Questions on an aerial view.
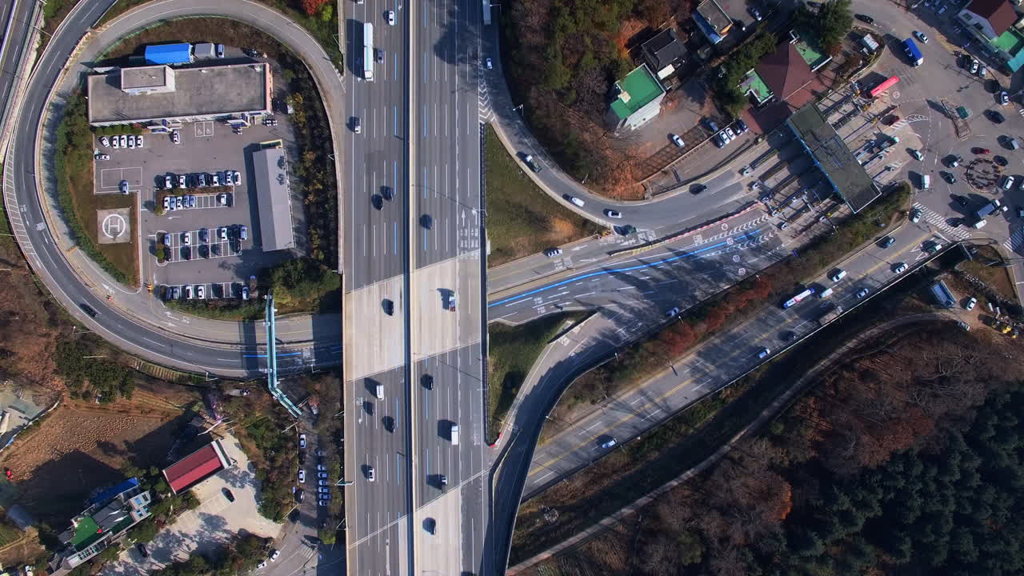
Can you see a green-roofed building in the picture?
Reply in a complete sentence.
Yes, the photo shows a green-roofed building.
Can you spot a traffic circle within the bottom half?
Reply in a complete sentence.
No, no traffic circle can be made out within the bottom half.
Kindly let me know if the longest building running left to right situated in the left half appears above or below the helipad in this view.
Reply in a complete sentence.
It's above the helipad that the longest building running left to right situated in the left half shows up.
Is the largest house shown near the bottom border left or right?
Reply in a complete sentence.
The largest house shown near the bottom border sits on the left side.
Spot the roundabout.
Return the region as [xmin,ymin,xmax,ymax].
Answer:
[967,158,1001,192]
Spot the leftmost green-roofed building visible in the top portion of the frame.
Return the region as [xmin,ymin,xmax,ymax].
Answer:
[608,64,665,126]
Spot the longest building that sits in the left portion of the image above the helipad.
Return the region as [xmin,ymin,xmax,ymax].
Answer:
[88,63,278,135]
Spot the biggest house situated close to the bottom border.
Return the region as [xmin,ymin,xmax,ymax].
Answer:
[53,477,157,567]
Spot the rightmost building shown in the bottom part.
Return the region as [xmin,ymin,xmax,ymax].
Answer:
[162,437,238,494]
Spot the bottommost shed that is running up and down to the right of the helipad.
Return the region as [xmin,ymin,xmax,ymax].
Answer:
[253,140,299,251]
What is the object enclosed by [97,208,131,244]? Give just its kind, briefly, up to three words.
helipad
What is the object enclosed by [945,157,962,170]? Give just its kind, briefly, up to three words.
vehicle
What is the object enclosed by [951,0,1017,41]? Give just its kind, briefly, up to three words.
house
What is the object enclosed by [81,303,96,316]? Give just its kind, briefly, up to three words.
vehicle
